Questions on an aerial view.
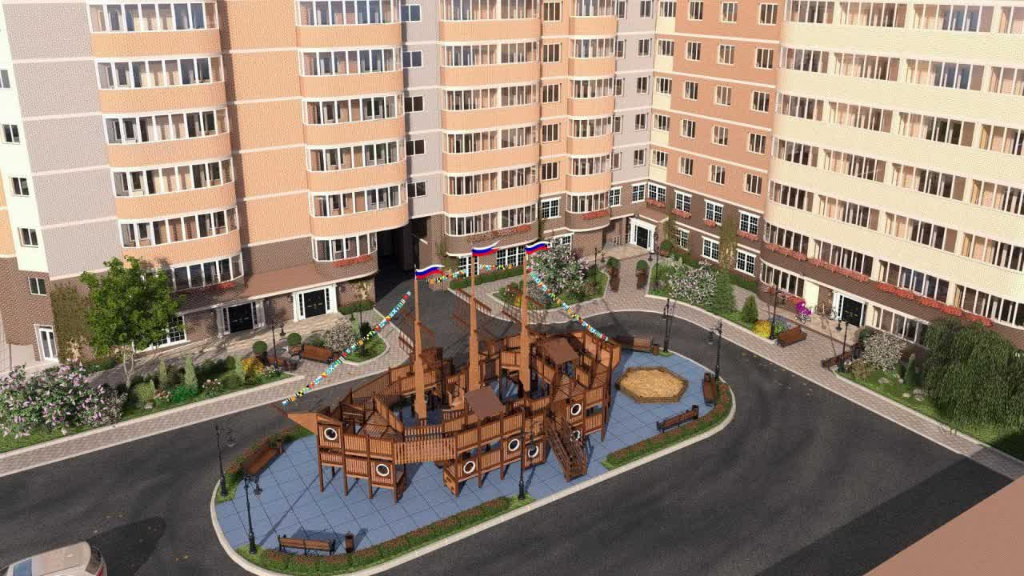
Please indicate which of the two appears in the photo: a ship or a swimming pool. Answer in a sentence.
Visible in the photo is a ship.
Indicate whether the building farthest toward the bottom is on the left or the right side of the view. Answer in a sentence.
The building farthest toward the bottom appears in the right half of the scene.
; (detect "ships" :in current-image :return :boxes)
[272,238,618,502]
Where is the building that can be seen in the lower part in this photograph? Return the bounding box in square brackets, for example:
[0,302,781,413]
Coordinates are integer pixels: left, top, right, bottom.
[865,494,1024,576]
